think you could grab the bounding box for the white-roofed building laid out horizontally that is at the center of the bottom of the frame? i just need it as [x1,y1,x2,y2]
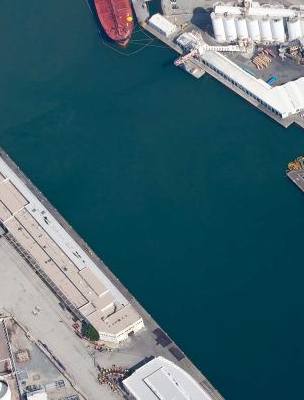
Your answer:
[123,355,215,400]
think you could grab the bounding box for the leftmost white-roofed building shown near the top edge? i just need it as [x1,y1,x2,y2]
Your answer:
[148,13,178,38]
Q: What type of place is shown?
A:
port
